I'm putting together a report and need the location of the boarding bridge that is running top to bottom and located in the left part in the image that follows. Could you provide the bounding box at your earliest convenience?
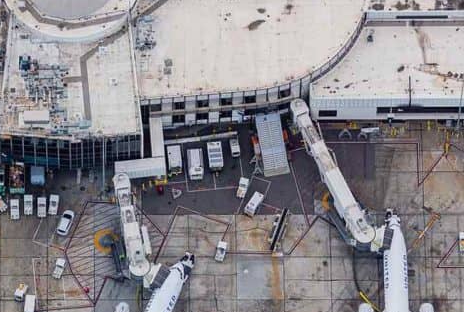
[110,157,172,298]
